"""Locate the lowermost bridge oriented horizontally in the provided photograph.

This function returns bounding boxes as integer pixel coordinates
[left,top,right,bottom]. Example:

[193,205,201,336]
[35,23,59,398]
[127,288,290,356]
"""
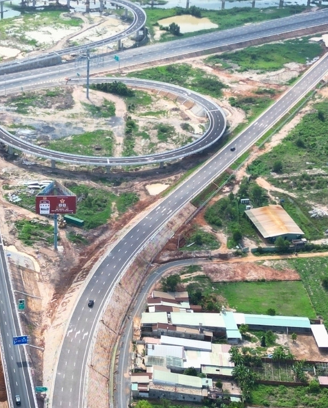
[0,93,225,173]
